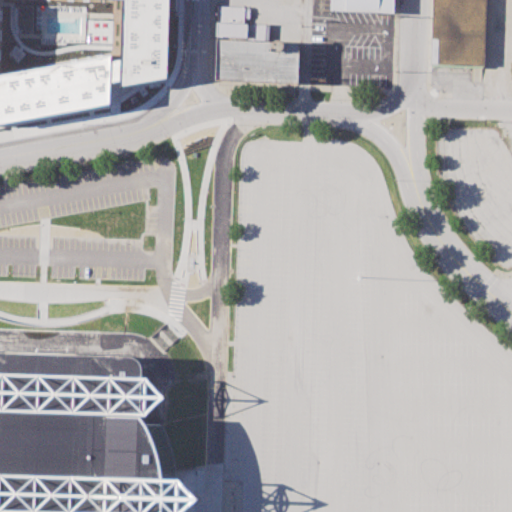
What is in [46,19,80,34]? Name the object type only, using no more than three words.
swimming pool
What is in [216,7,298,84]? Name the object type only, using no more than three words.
building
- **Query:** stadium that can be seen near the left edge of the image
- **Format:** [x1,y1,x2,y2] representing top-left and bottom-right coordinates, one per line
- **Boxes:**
[0,352,197,512]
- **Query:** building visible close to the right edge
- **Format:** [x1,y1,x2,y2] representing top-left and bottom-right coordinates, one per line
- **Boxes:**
[432,0,486,68]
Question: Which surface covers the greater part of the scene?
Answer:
paved ground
